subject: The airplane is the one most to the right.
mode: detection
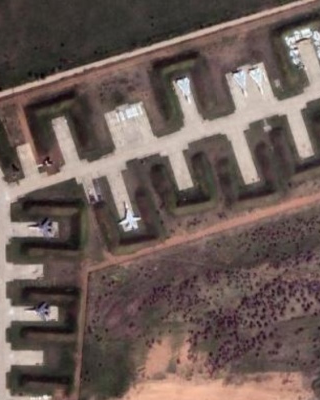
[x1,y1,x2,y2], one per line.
[248,67,262,95]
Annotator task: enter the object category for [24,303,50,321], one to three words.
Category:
airplane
